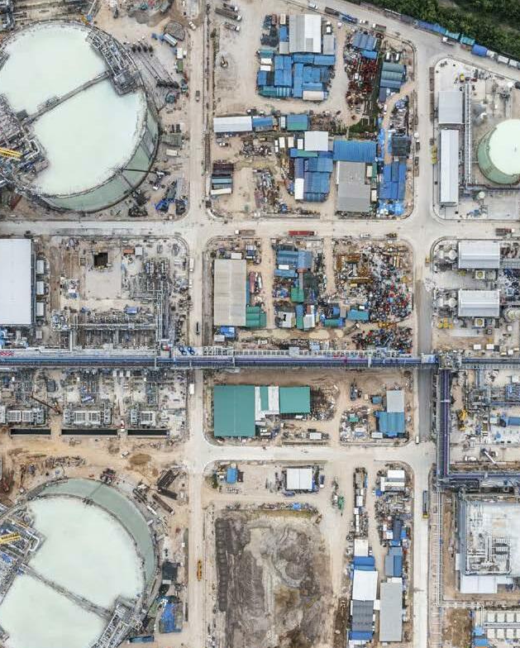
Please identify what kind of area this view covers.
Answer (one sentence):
It's an industrial area.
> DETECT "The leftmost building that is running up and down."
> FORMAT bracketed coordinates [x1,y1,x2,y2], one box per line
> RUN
[0,239,37,325]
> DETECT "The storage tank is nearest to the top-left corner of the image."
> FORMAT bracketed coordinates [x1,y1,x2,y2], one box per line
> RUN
[0,21,160,213]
